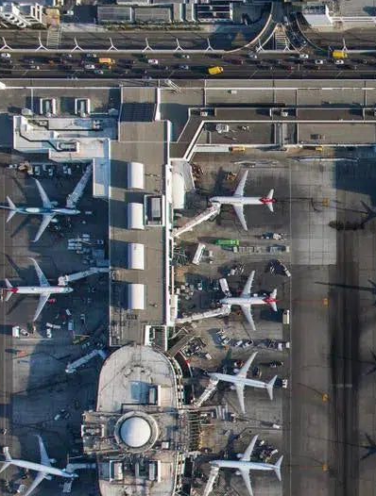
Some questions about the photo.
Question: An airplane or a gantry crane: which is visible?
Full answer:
It is an airplane that can be seen here.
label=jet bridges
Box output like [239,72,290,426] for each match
[61,463,97,478]
[176,299,238,326]
[63,162,92,214]
[203,461,223,496]
[176,197,226,238]
[194,372,223,409]
[53,267,108,286]
[60,347,108,375]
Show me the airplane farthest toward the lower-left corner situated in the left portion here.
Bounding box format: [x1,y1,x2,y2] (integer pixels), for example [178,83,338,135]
[0,435,79,496]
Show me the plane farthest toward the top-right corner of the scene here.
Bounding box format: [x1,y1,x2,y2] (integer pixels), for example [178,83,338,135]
[210,169,278,230]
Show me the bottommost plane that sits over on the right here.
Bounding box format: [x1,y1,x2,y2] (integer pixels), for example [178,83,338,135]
[210,433,282,496]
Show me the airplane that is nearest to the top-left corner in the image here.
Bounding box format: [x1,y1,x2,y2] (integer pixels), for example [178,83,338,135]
[3,177,81,244]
